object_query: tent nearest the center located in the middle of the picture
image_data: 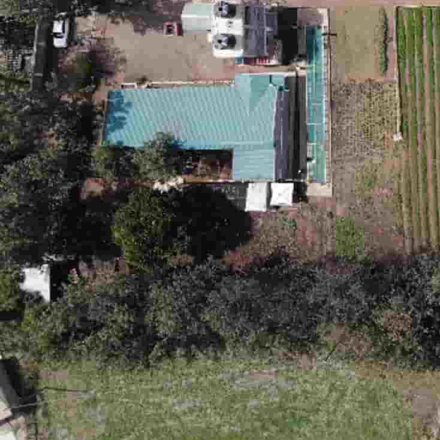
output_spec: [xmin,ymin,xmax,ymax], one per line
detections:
[246,181,274,211]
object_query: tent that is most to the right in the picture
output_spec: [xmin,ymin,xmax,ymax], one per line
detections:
[270,181,298,207]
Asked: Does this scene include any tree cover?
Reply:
Yes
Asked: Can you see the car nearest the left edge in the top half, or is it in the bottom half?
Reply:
top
